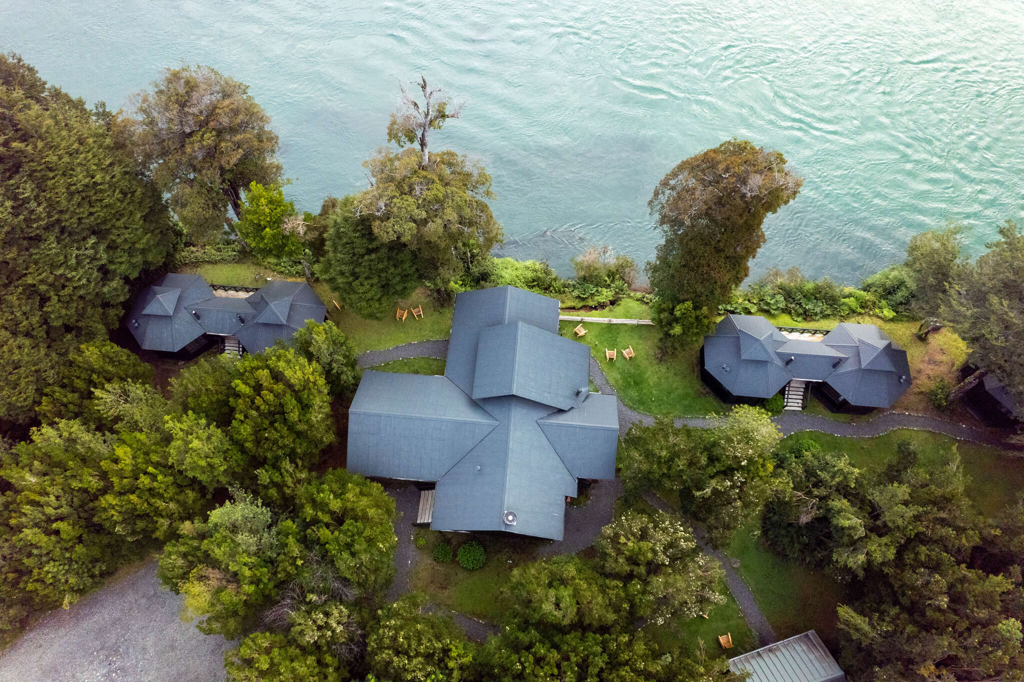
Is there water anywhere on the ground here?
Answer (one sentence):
Yes, water shows up in the scene.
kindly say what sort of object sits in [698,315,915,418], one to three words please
building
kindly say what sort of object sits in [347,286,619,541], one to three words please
house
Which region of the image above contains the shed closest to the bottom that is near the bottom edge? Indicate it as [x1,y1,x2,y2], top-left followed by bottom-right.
[724,628,849,682]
